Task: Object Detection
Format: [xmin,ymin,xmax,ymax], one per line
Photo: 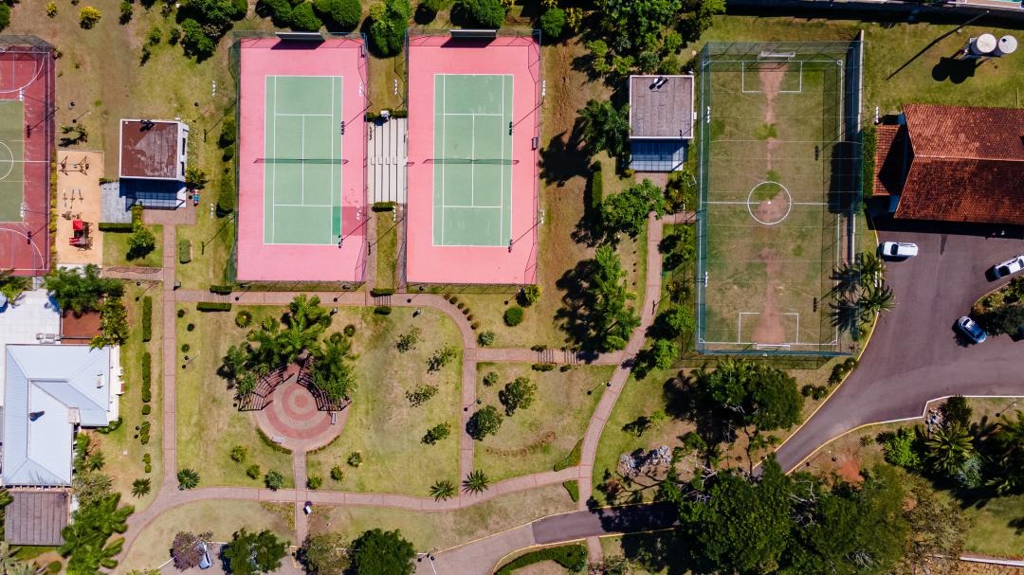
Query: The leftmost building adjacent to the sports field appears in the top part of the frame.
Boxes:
[625,75,694,171]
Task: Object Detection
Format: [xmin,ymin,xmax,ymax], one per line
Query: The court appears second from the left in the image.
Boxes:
[237,38,366,282]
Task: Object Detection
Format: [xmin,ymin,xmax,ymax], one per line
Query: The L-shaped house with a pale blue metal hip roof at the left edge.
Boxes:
[3,344,118,487]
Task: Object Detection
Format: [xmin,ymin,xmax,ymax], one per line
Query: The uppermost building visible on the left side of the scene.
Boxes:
[119,119,191,208]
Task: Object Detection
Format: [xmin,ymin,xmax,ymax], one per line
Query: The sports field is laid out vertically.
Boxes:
[695,54,845,352]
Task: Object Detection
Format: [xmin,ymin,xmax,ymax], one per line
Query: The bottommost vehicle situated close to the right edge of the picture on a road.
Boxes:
[955,315,985,344]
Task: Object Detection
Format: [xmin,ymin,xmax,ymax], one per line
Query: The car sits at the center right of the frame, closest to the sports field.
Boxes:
[880,240,919,257]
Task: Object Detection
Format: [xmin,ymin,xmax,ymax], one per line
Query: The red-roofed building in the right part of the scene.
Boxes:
[869,104,1024,226]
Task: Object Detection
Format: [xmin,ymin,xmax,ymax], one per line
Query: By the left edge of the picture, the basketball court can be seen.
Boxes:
[0,46,55,276]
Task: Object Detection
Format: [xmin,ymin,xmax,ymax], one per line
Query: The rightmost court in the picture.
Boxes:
[406,36,539,284]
